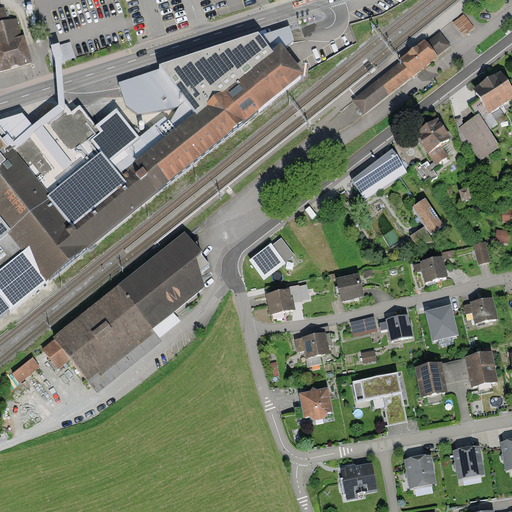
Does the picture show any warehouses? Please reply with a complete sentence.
Yes, there's a warehouse down there.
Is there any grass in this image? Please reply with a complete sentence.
Yes, some grass is visible.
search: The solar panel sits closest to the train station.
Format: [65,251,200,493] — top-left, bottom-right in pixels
[357,158,402,193]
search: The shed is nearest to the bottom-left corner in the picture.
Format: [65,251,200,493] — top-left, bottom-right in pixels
[12,358,40,383]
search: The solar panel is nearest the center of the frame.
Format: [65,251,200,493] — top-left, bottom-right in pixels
[253,248,280,274]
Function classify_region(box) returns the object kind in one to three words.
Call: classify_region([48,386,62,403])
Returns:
vehicle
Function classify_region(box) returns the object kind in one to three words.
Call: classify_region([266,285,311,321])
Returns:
house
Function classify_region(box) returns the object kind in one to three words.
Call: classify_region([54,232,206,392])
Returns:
warehouse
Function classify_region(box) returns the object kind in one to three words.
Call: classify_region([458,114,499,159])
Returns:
building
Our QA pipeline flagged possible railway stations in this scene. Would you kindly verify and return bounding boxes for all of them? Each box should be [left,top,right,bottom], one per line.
[352,40,438,114]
